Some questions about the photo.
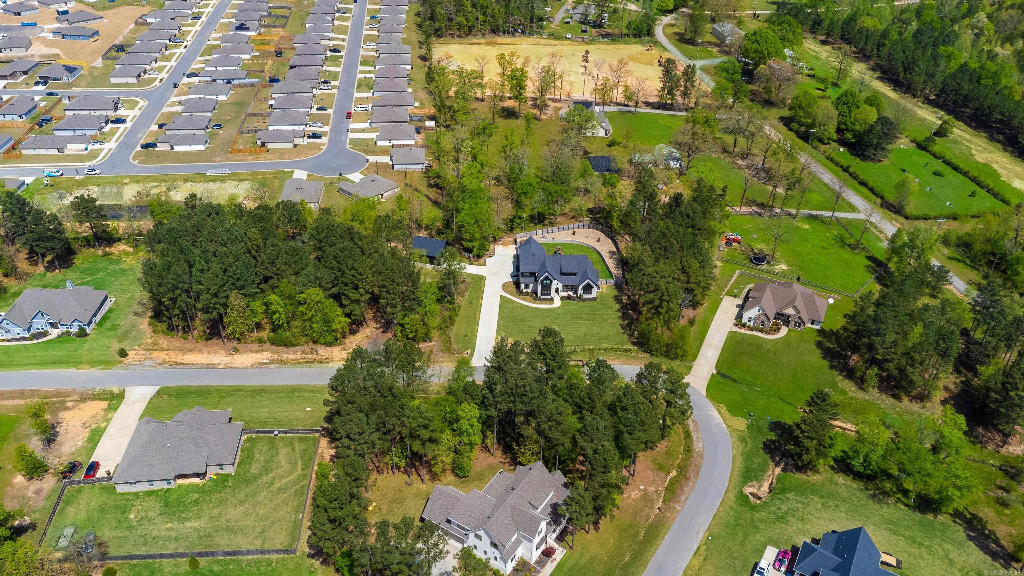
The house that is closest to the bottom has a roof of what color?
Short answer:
blue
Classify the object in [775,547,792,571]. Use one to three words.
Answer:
car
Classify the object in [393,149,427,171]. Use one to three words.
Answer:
house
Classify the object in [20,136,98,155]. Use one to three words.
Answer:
house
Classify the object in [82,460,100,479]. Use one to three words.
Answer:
car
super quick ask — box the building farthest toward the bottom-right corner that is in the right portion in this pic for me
[794,528,897,576]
